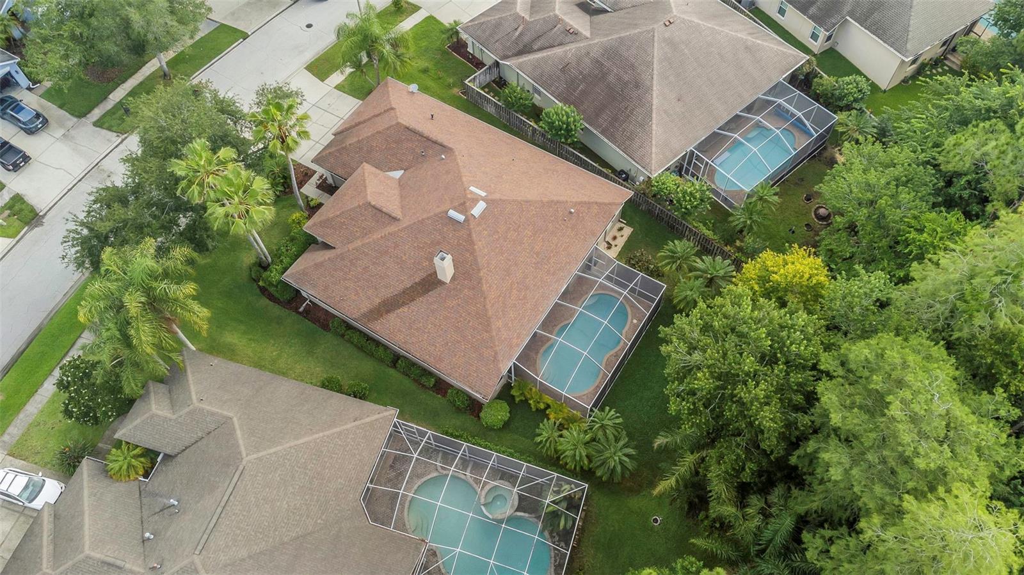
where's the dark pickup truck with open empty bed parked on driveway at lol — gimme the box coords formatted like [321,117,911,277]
[0,135,34,172]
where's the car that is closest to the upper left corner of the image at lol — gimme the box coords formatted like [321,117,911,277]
[0,101,48,135]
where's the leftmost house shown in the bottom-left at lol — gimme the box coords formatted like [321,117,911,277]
[0,347,426,575]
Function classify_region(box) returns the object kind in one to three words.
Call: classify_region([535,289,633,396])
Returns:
swimming pool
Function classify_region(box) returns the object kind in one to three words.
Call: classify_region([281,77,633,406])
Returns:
house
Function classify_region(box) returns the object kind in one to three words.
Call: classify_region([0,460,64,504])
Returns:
car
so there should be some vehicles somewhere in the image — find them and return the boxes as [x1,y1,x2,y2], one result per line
[0,101,48,135]
[0,135,34,172]
[0,460,64,504]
